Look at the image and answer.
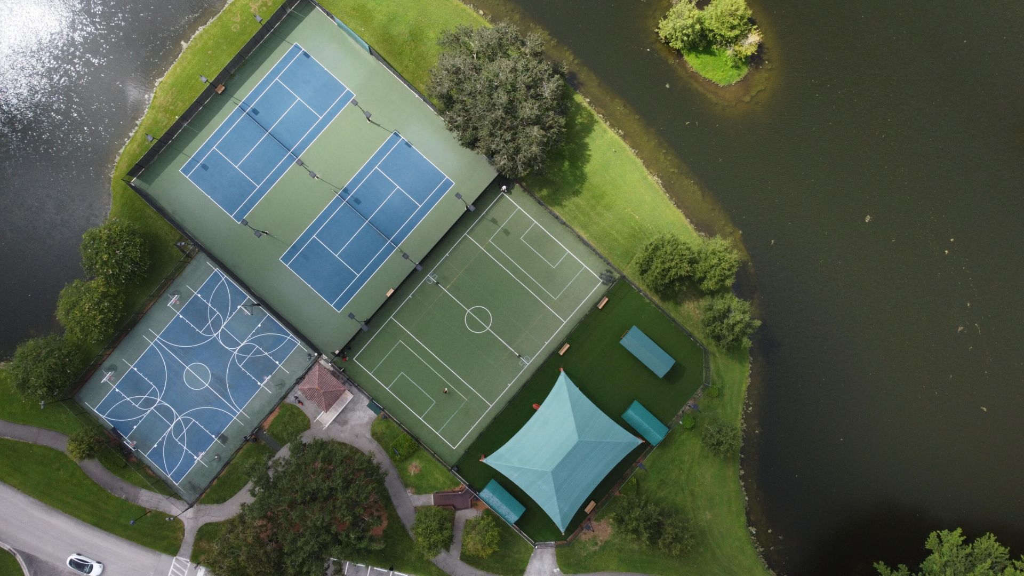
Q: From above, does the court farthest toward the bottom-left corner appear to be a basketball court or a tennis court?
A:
basketball court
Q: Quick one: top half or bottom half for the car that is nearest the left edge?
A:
bottom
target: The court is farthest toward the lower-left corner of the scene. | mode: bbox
[75,251,315,504]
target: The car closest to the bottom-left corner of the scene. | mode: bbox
[67,554,102,576]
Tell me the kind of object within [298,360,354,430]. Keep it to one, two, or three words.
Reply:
building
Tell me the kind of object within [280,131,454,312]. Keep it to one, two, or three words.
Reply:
tennis court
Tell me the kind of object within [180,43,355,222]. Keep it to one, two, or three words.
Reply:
tennis court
